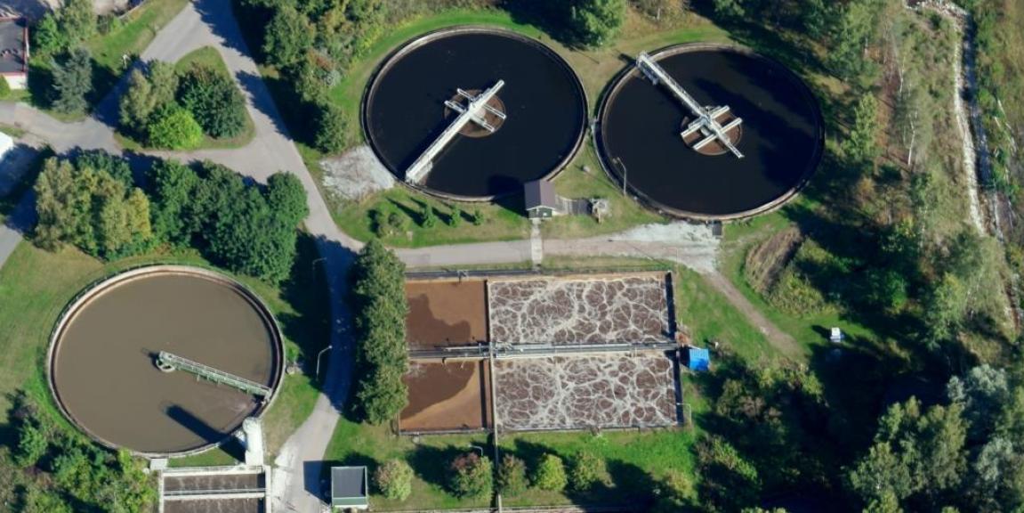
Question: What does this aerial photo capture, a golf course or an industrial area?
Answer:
industrial area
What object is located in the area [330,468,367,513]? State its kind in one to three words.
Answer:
shed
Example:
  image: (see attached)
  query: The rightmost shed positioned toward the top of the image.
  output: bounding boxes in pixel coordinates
[524,172,556,225]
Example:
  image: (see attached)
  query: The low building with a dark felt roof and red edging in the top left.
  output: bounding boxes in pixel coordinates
[0,16,33,89]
